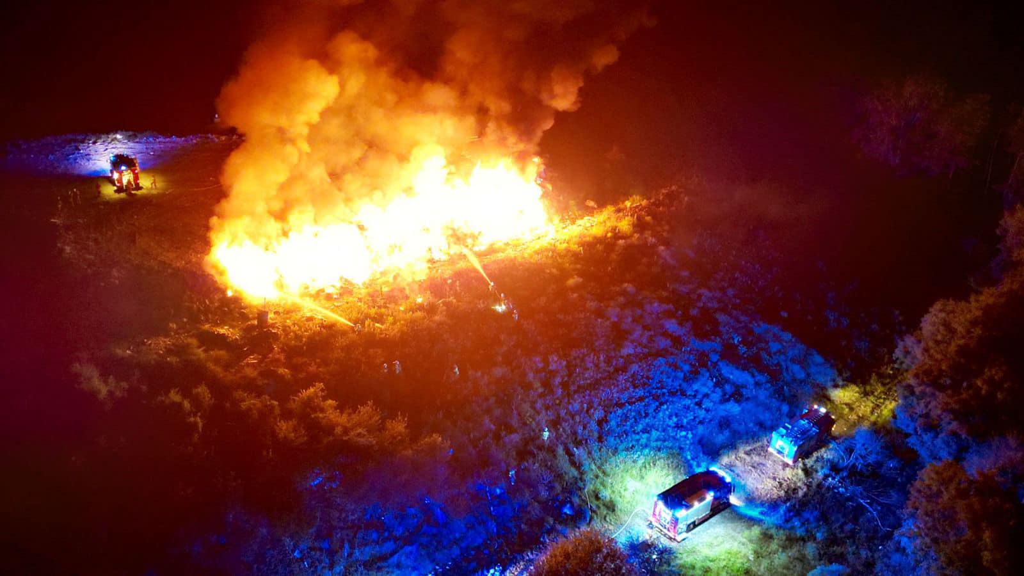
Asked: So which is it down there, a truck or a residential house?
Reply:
truck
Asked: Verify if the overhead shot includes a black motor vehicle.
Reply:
No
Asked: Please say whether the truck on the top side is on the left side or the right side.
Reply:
left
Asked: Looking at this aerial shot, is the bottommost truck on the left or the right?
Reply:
right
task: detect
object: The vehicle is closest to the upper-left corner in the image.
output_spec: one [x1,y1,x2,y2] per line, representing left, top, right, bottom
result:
[104,152,139,190]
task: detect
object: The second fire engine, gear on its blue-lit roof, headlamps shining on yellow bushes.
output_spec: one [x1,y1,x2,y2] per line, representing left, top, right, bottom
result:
[767,397,841,463]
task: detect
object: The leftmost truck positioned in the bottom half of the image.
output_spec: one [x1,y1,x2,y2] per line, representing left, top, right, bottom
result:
[647,462,740,543]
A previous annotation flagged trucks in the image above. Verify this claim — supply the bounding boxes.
[767,397,841,463]
[647,462,740,543]
[104,152,139,190]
